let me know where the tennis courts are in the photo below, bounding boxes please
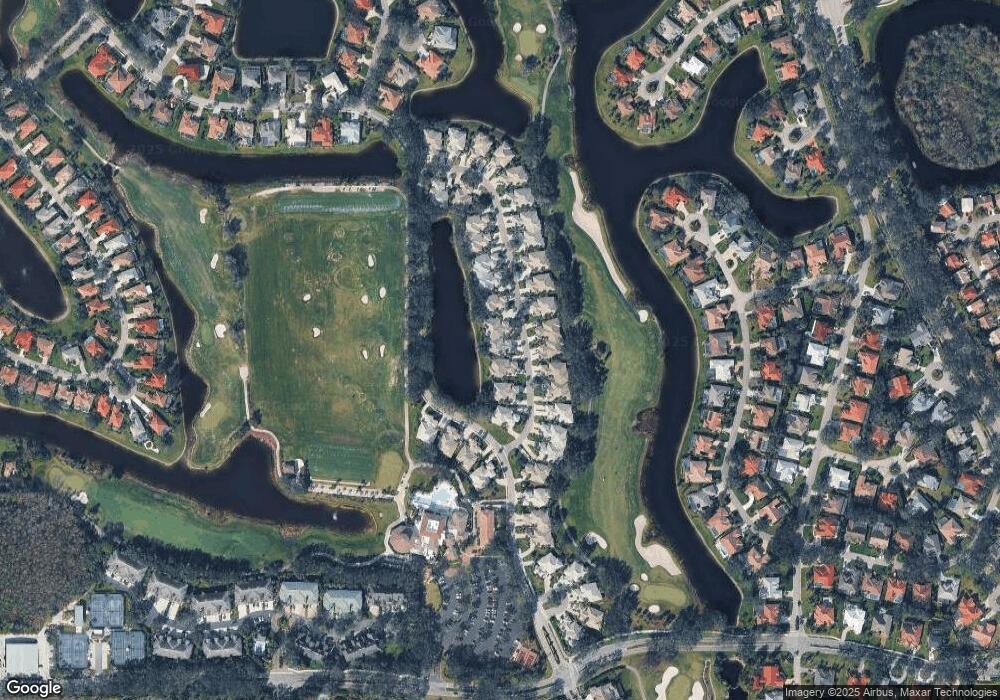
[107,594,124,628]
[128,631,145,665]
[58,633,73,669]
[91,594,107,628]
[111,631,128,665]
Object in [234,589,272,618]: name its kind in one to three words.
building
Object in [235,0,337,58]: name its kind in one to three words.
pond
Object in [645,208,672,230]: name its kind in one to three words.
house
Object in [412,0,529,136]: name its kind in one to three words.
pond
